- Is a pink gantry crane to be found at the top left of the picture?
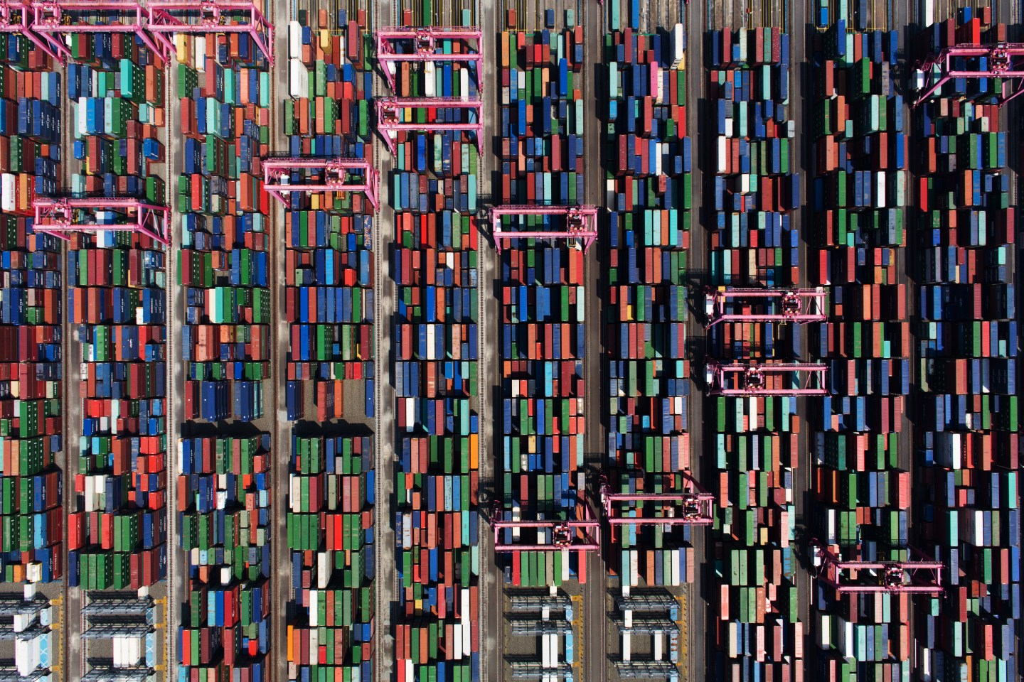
Yes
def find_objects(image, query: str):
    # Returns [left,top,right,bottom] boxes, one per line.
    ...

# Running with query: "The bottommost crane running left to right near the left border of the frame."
[35,195,169,246]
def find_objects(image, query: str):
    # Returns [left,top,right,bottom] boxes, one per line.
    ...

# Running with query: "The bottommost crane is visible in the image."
[806,537,942,598]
